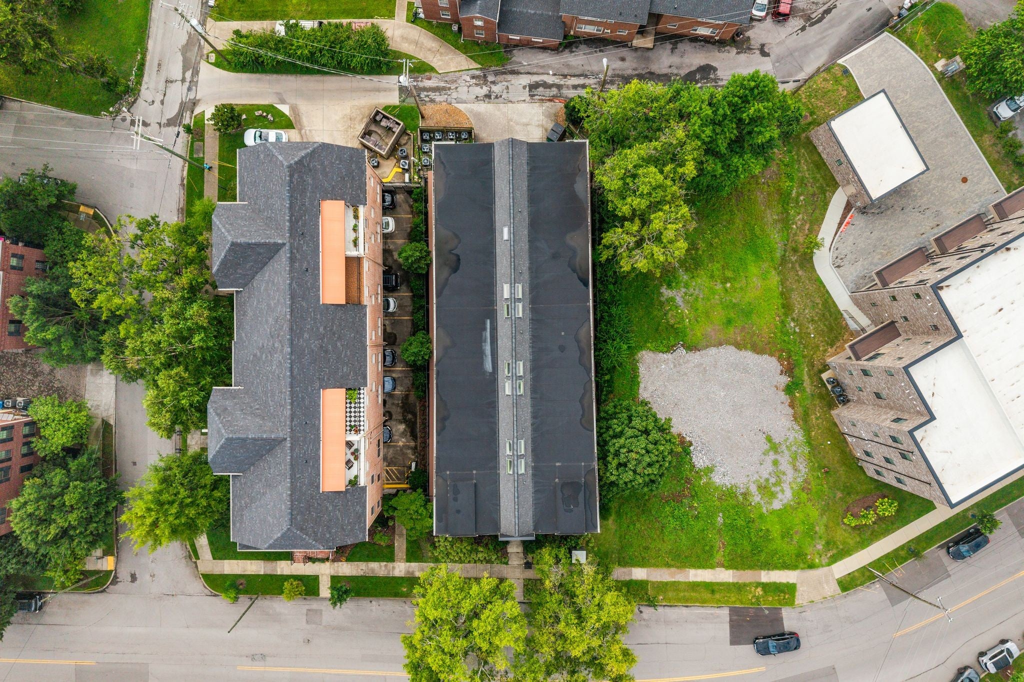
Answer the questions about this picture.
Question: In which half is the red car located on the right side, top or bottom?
top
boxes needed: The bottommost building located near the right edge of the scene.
[827,180,1024,509]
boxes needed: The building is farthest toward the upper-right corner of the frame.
[809,89,930,209]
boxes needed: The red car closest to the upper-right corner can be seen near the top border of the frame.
[771,0,795,23]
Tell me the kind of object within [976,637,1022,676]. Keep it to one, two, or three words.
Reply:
car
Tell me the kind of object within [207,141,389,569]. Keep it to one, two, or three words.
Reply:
building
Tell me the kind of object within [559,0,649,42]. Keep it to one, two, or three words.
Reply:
house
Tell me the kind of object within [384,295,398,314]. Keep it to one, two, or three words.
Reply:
car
